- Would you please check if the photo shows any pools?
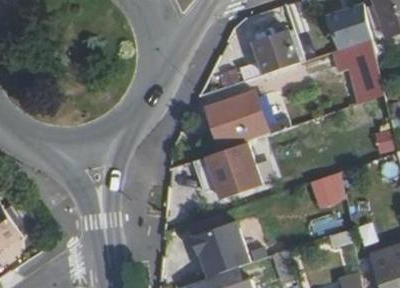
Yes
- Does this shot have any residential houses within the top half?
Yes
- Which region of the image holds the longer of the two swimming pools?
bottom right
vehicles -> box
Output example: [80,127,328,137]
[146,86,162,108]
[108,169,120,192]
